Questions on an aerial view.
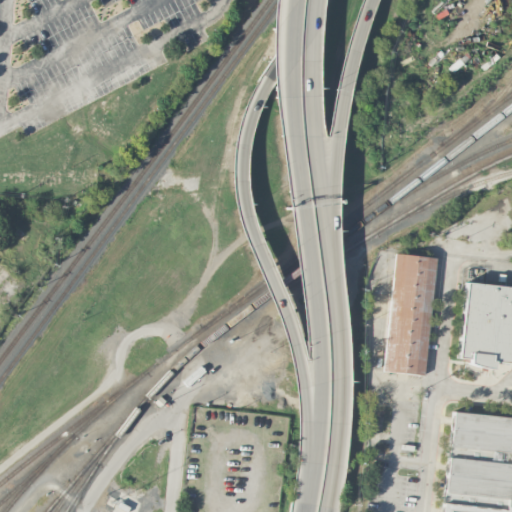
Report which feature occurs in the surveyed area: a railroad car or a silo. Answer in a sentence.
Visible in the photo is a railroad car.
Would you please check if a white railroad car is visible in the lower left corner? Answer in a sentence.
Yes, a white railroad car appears in the lower left corner.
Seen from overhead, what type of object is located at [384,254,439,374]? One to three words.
building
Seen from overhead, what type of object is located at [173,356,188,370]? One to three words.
rail car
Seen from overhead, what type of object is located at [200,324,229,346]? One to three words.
rail car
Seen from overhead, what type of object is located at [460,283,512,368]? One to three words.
building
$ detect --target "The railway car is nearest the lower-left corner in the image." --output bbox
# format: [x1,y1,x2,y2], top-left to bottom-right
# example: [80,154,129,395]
[114,406,142,438]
